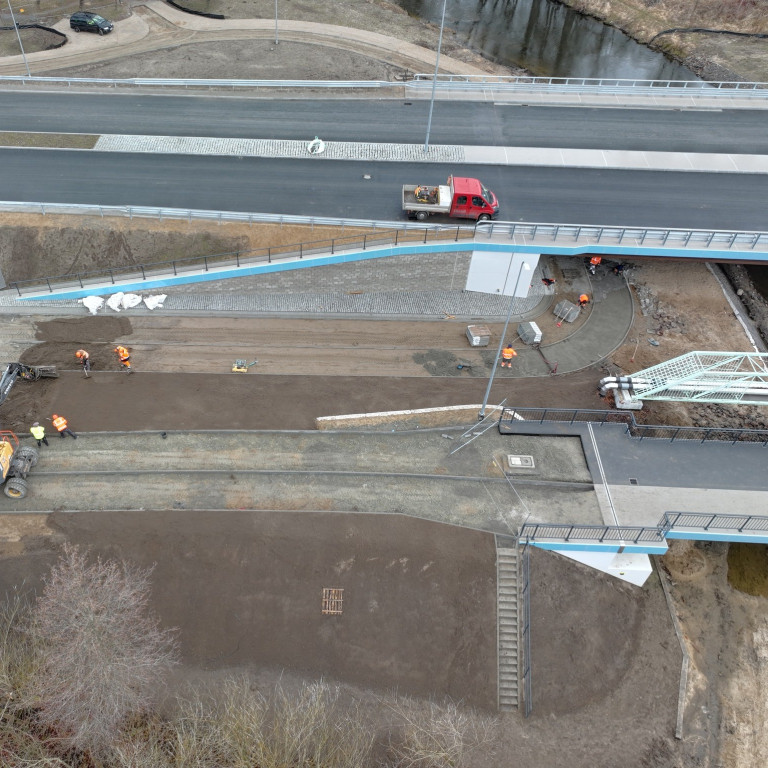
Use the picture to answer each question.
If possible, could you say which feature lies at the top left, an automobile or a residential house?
automobile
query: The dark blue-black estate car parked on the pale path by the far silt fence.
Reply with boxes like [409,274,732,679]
[64,10,117,39]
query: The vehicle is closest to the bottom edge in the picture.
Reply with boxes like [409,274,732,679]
[0,362,62,500]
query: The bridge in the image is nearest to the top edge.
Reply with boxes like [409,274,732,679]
[402,69,768,299]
